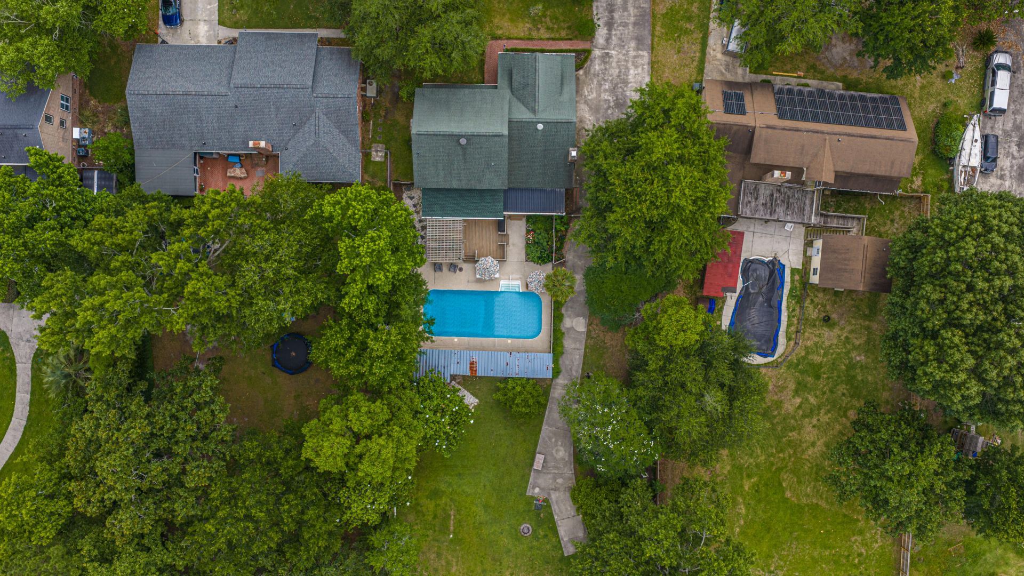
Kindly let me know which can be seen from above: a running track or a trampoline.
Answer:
trampoline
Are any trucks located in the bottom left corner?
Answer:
No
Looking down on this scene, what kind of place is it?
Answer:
residential area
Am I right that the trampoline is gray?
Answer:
No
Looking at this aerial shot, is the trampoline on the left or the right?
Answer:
left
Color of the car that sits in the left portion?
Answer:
blue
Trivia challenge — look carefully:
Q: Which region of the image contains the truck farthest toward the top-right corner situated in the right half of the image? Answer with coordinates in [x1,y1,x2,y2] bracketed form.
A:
[987,48,1021,115]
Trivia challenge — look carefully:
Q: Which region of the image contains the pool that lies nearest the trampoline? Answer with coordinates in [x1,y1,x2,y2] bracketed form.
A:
[423,277,543,341]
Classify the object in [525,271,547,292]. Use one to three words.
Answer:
umbrella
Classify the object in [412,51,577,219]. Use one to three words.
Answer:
house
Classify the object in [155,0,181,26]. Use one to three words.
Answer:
car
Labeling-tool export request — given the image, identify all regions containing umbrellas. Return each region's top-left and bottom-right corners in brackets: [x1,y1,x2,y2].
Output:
[525,271,547,292]
[475,255,500,280]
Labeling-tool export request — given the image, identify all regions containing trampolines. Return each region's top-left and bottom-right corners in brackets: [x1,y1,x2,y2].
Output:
[272,334,311,373]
